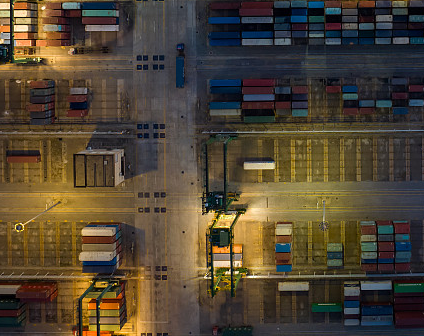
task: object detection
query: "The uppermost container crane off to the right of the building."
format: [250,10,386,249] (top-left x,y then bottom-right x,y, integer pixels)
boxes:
[199,133,240,213]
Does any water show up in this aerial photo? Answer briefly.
No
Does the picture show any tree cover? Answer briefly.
No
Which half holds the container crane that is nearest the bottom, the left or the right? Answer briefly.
left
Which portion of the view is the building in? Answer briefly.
left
